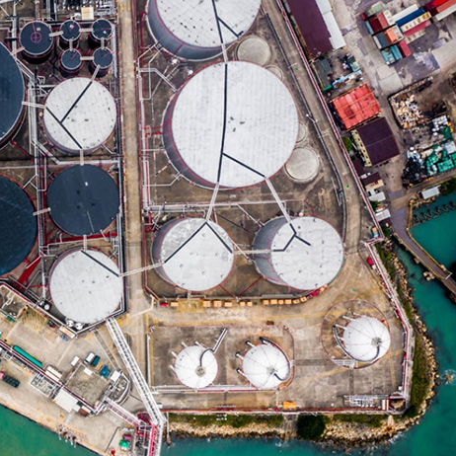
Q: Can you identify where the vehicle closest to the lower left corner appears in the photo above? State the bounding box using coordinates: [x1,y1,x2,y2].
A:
[0,370,20,387]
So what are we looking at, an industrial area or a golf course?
industrial area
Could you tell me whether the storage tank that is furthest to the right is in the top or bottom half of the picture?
bottom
